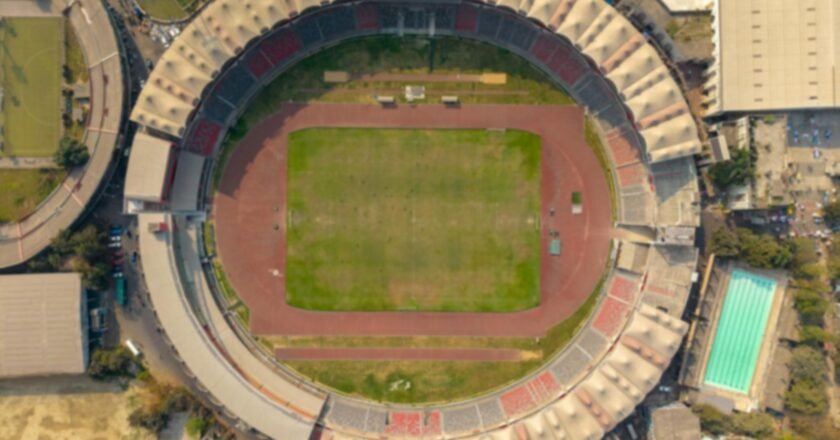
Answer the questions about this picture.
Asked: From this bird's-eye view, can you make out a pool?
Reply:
Yes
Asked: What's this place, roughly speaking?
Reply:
sports ground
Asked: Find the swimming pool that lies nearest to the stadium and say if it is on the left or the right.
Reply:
right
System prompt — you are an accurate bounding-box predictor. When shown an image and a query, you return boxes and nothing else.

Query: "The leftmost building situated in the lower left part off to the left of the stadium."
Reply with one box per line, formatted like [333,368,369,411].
[0,271,101,378]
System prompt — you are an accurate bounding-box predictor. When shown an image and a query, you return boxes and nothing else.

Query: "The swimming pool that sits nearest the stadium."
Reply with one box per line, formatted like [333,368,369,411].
[701,267,782,401]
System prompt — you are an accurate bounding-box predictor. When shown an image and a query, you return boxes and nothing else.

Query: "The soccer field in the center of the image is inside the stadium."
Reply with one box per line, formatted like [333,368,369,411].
[287,127,541,313]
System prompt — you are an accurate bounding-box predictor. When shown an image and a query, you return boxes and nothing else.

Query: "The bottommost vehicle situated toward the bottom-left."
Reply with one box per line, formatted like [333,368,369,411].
[125,339,140,355]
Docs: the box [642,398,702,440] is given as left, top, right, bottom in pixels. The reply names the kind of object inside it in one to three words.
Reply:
house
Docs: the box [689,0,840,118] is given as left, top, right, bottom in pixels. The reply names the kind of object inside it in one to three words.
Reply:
building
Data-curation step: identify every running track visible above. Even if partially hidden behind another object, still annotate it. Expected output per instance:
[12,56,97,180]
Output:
[213,103,612,335]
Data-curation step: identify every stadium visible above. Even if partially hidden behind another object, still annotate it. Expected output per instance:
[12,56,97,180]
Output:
[124,0,699,440]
